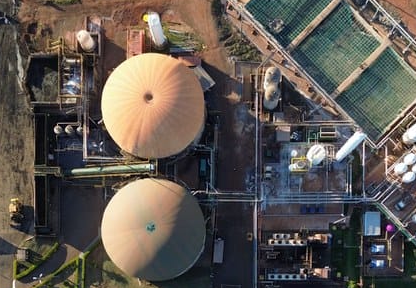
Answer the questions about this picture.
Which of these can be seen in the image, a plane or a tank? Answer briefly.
tank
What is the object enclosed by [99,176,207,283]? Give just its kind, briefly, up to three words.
storage tank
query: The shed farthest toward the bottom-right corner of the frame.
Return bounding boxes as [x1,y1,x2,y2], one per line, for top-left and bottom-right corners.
[361,212,380,236]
